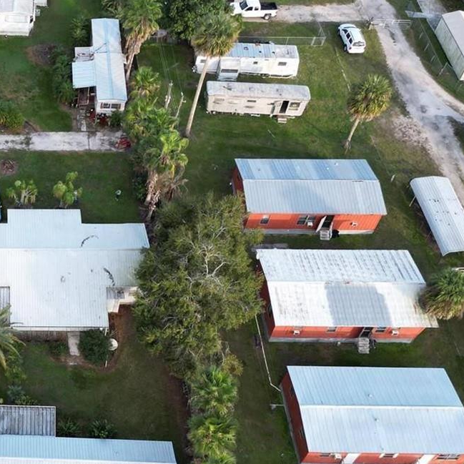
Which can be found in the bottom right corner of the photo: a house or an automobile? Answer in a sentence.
There is a house in the bottom right corner of the photo.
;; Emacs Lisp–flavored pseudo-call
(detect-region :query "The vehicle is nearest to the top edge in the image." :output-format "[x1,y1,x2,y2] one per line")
[230,0,280,19]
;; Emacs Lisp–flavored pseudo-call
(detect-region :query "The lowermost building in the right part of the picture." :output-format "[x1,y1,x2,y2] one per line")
[280,367,464,464]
